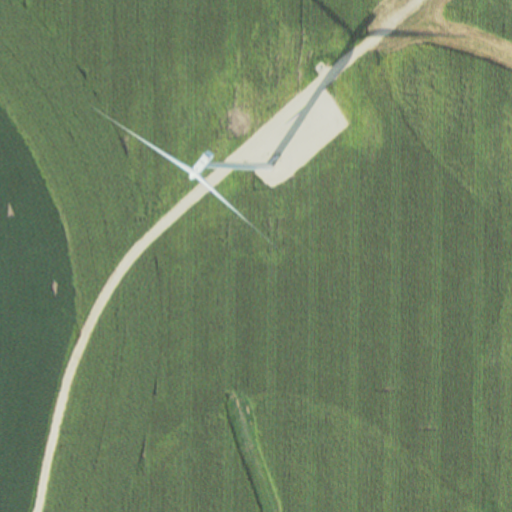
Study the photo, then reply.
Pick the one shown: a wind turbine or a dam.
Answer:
wind turbine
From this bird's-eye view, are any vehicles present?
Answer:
No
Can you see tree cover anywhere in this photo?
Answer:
No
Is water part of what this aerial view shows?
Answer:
No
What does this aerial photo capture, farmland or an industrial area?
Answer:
farmland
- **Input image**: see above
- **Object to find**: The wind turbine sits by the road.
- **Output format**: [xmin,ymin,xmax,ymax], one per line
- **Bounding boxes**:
[88,105,281,244]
